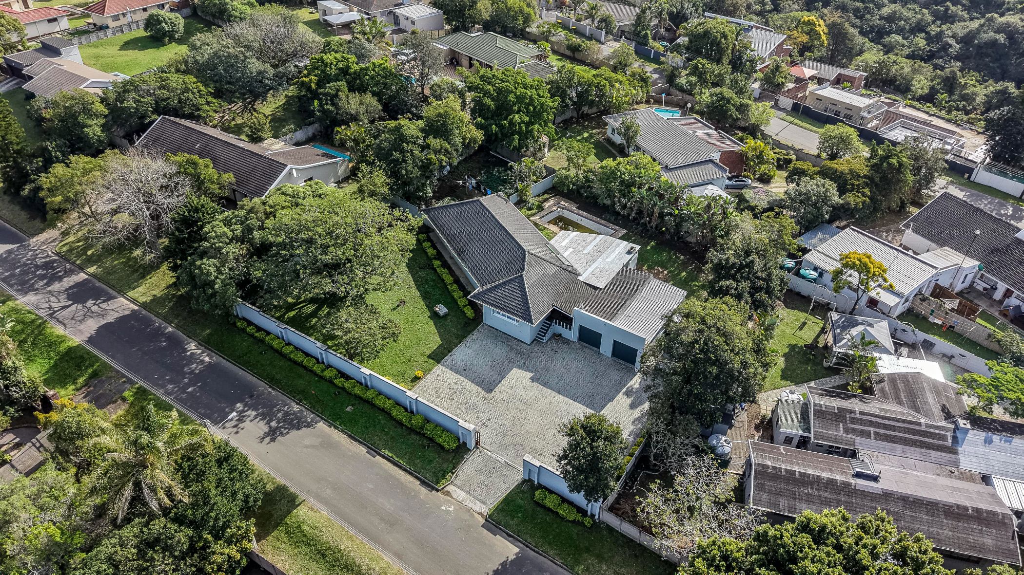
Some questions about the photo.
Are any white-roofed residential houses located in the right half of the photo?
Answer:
Yes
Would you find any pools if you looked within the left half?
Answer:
Yes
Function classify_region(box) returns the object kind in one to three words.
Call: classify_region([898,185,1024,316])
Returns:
house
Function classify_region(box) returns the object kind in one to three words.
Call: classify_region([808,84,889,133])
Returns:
house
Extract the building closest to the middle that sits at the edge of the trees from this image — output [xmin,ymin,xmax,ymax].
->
[421,187,686,373]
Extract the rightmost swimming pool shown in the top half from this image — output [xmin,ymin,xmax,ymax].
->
[648,105,684,119]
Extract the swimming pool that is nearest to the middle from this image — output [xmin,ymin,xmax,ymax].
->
[536,194,627,241]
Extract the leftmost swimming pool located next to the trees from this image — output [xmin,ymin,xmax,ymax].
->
[307,139,356,165]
